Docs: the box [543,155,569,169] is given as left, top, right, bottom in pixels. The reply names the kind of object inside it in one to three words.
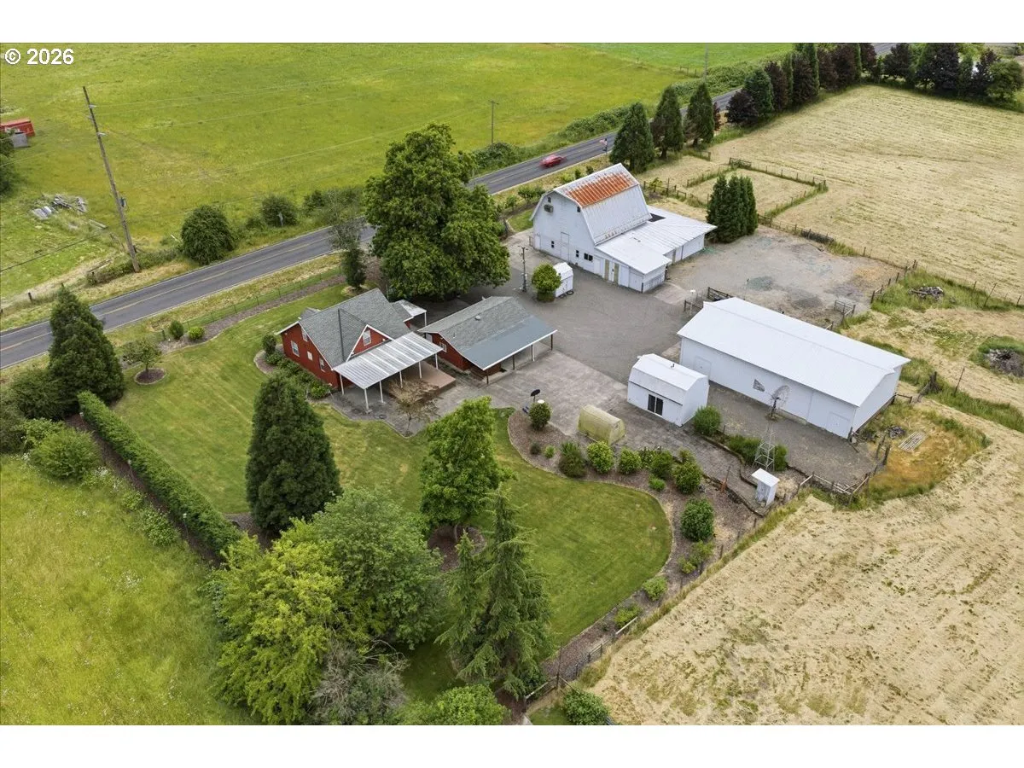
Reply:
car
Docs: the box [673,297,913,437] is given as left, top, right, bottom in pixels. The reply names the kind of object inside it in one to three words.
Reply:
shed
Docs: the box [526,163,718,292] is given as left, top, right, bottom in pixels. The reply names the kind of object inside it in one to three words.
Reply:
barn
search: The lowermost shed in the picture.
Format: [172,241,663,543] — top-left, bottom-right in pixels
[748,464,784,502]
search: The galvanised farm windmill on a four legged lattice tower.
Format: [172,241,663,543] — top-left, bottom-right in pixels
[747,379,795,470]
